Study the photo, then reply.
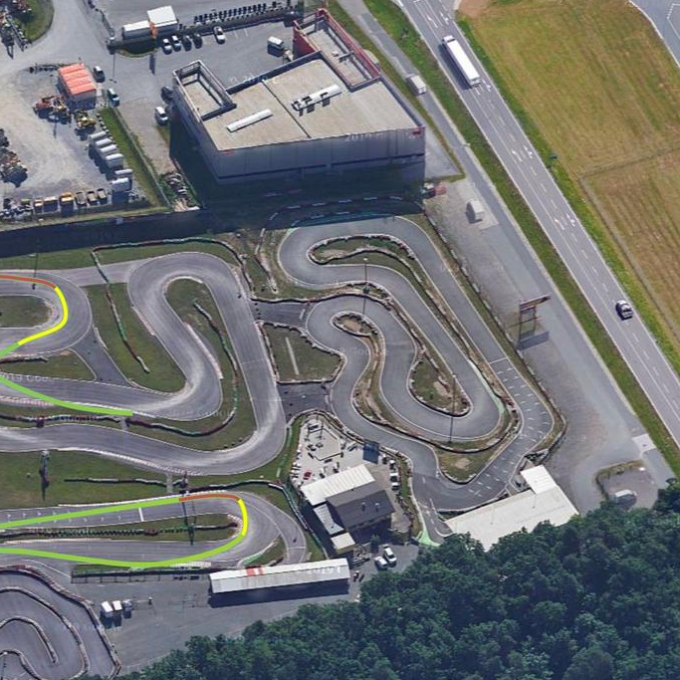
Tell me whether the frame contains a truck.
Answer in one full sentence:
Yes, this view includes a truck.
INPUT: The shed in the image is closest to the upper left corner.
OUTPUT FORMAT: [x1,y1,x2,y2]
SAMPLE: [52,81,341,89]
[59,64,97,109]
